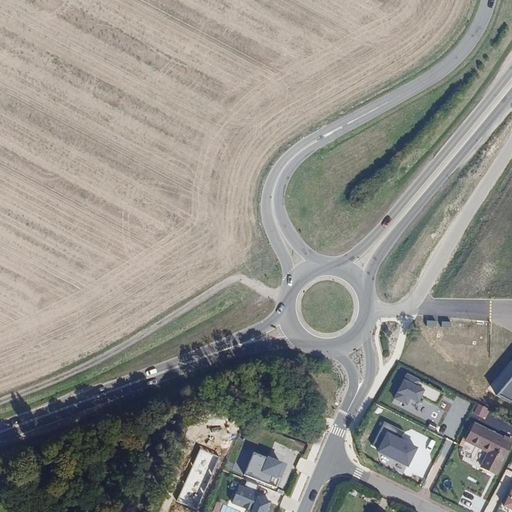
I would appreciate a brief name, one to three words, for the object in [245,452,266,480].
house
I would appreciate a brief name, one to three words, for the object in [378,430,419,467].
house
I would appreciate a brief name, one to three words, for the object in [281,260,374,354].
roundabout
